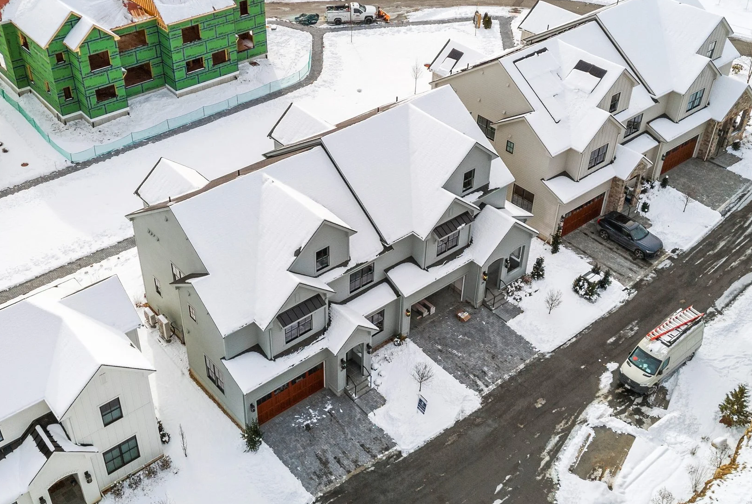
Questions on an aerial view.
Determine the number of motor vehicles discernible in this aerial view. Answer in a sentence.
The count of motor vehicles comes to 3.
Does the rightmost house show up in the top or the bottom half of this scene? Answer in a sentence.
The rightmost house is in the top half of the image.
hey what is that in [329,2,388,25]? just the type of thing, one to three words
truck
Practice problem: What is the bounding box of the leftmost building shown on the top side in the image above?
[0,0,269,127]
